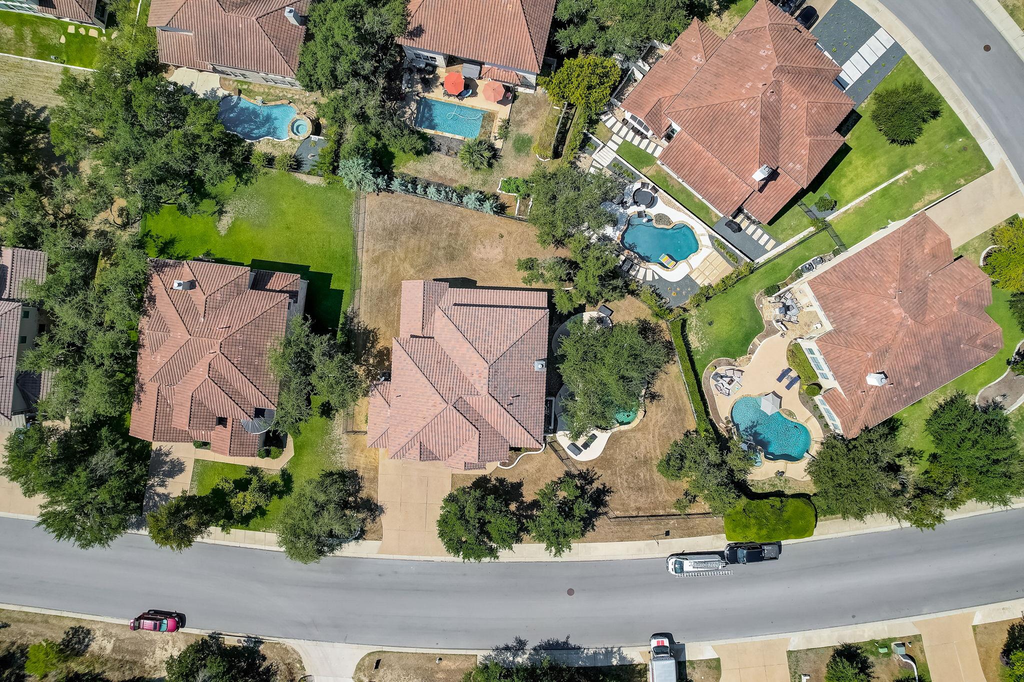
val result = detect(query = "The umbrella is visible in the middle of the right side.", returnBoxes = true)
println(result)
[759,391,781,414]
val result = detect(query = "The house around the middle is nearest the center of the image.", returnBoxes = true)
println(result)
[368,280,550,470]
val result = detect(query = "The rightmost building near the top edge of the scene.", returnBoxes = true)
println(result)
[620,0,856,225]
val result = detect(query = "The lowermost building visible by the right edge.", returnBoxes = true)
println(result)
[793,211,1005,436]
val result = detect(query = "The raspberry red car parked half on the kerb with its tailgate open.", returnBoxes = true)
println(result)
[126,610,184,637]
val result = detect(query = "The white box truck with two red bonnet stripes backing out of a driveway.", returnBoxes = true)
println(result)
[647,630,676,682]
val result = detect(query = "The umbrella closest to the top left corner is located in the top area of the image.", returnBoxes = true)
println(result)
[444,74,465,96]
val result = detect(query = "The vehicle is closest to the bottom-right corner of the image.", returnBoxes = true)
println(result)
[724,542,783,569]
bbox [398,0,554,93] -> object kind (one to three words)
house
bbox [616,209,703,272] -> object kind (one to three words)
swimming pool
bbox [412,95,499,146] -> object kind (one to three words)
swimming pool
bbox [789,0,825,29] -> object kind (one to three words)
car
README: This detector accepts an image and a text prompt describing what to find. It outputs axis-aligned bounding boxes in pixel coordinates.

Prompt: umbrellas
[444,74,465,96]
[759,391,781,414]
[482,81,505,104]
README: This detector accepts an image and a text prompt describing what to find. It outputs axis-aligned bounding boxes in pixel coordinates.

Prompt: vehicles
[789,0,825,29]
[666,550,729,583]
[126,610,184,637]
[647,630,676,682]
[724,542,783,569]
